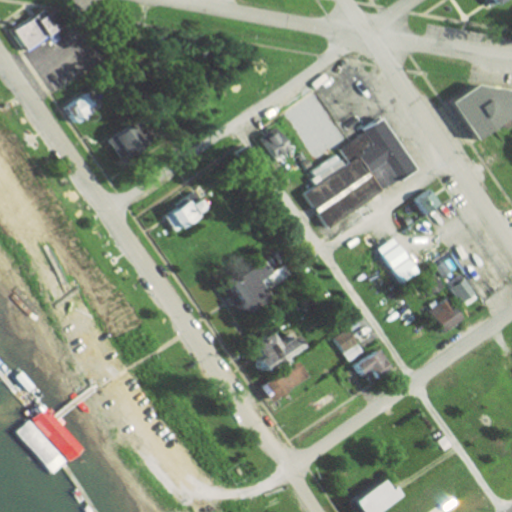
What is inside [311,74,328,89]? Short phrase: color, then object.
white vehicle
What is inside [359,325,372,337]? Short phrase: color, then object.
white vehicle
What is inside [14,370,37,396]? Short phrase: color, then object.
white boat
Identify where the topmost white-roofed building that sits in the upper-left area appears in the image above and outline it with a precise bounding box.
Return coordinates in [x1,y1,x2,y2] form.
[16,16,60,52]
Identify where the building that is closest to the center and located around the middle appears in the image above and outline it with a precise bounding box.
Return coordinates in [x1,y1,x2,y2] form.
[236,268,291,306]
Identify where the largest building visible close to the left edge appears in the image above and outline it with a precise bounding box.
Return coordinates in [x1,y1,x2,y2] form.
[16,408,86,474]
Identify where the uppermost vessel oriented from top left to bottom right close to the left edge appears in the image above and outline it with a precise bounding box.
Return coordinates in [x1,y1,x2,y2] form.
[10,294,36,319]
